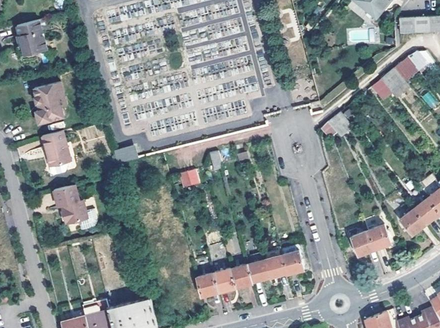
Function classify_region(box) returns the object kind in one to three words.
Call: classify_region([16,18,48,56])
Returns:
house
